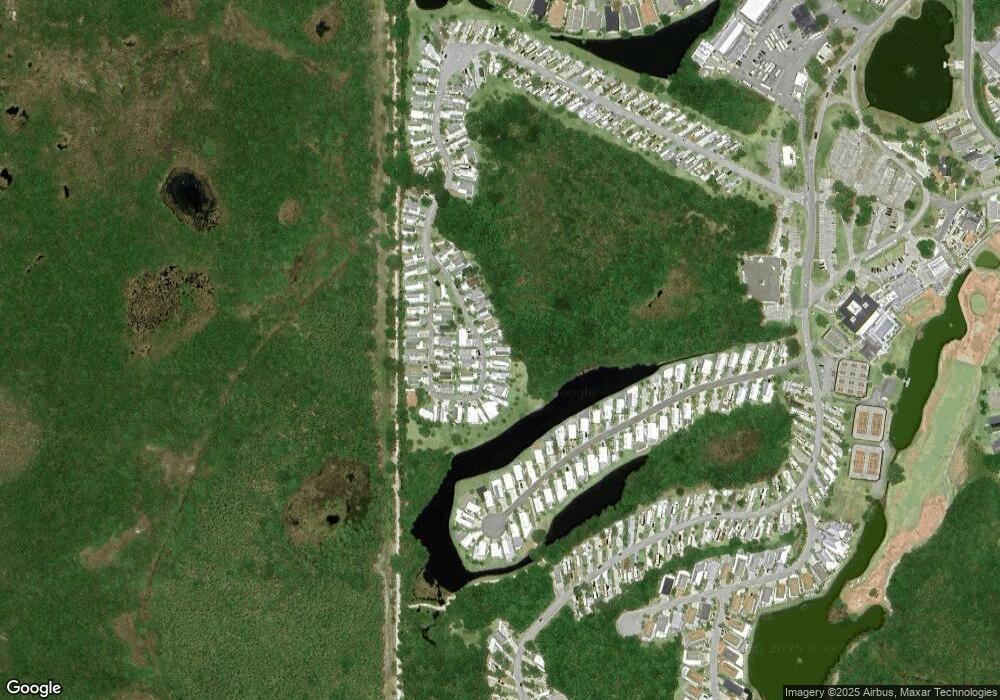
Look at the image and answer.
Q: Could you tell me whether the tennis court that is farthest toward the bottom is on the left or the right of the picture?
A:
right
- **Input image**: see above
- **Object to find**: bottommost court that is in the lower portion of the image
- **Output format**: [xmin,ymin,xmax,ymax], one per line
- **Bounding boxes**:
[850,444,883,480]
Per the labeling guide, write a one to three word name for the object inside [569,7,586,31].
house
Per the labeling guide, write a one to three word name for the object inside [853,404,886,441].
tennis court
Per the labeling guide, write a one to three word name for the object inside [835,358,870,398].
sports court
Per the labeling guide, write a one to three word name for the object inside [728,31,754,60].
shed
